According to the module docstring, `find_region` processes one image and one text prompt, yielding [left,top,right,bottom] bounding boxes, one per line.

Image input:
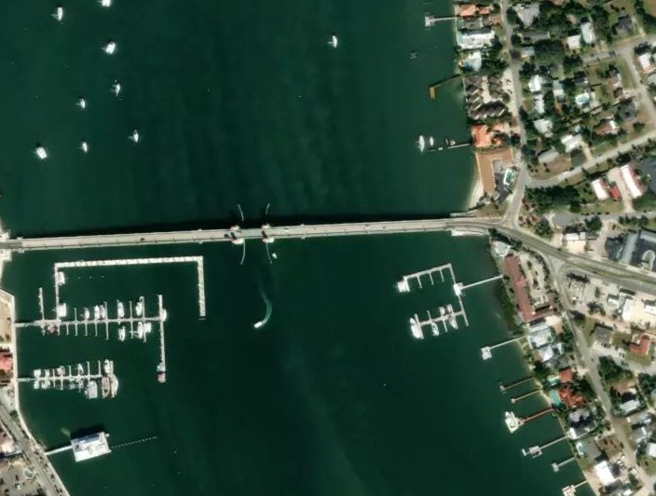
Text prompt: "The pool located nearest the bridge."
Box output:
[504,168,516,185]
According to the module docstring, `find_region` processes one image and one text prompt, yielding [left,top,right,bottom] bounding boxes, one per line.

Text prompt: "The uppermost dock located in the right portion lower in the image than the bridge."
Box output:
[404,263,503,339]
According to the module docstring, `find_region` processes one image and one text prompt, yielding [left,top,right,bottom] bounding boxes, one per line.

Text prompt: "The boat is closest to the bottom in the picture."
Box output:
[504,412,520,434]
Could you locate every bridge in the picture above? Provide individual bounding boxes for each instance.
[0,219,479,251]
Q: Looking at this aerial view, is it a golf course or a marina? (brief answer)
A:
marina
